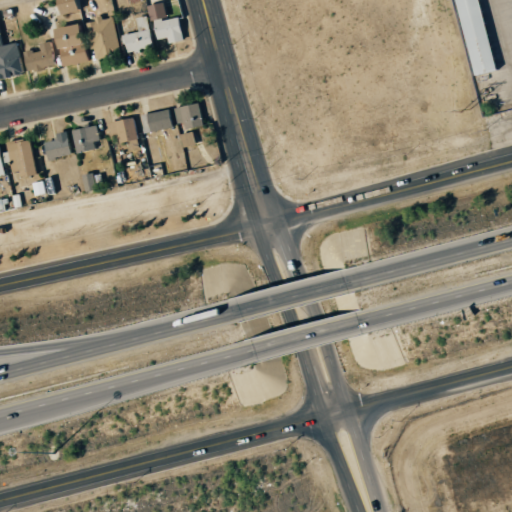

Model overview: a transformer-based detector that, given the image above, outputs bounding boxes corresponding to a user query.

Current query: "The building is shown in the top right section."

[454,0,498,76]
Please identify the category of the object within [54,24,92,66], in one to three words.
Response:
house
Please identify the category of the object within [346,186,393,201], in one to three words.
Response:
vehicle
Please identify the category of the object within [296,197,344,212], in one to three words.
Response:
vehicle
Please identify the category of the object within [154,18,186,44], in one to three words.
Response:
house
